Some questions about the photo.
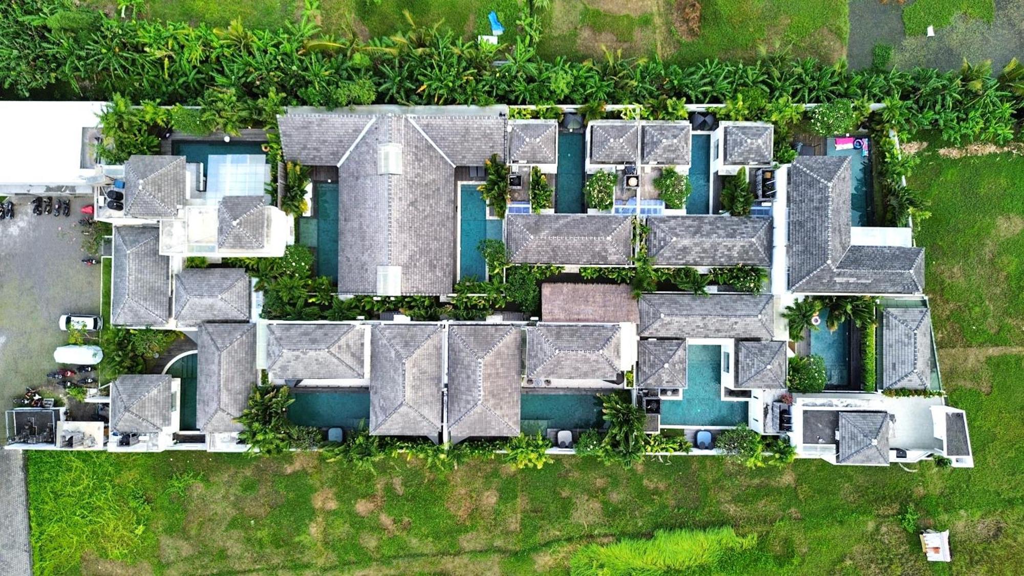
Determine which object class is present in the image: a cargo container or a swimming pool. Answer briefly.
swimming pool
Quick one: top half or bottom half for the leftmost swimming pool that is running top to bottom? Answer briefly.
bottom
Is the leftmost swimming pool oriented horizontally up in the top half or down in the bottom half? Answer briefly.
top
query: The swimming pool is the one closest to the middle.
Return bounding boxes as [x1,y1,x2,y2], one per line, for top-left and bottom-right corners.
[457,181,505,284]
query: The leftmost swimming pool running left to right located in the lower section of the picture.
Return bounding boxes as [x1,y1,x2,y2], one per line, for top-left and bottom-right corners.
[288,393,370,435]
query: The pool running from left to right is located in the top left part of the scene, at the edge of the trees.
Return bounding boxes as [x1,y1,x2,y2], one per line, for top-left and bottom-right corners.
[173,141,268,165]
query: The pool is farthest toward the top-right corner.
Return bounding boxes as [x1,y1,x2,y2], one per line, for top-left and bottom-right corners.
[828,137,871,227]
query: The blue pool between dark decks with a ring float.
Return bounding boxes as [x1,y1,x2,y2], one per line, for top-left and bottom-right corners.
[811,308,849,385]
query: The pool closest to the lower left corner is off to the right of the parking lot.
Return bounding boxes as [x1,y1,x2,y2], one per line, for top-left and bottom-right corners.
[165,350,197,431]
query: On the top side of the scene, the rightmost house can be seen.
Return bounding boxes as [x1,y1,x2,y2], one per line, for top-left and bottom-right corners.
[789,156,926,295]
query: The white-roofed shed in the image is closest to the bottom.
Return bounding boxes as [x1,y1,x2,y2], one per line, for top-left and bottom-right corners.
[916,527,949,561]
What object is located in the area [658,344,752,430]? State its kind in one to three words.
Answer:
swimming pool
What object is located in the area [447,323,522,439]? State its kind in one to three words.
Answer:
house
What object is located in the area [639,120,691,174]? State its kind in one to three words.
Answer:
building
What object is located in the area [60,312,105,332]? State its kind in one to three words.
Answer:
car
